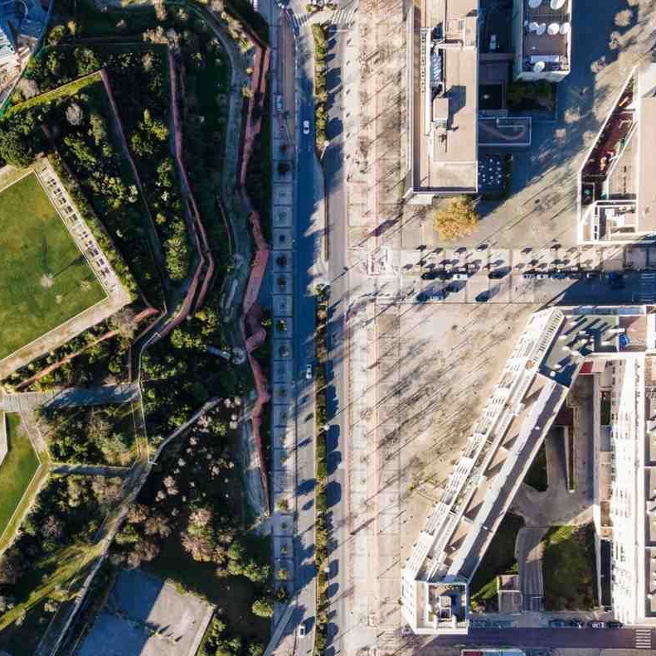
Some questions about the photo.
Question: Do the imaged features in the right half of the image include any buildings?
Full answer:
Yes, a building shows up in the right half of the image.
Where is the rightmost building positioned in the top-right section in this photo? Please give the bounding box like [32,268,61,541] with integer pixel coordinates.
[574,62,656,247]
